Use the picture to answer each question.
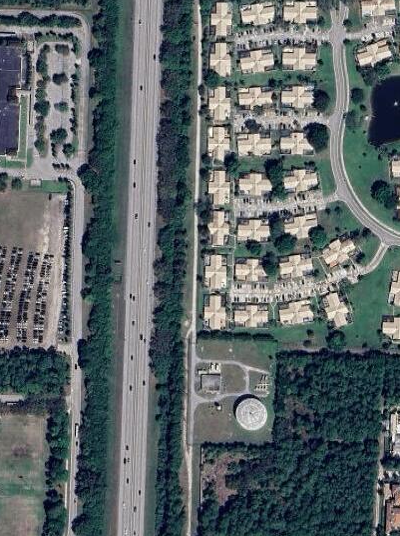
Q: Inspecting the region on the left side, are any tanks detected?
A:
No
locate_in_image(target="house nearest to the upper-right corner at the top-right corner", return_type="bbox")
[359,0,394,16]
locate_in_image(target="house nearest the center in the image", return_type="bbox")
[204,255,227,289]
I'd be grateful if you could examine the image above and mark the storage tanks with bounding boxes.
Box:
[235,397,267,430]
